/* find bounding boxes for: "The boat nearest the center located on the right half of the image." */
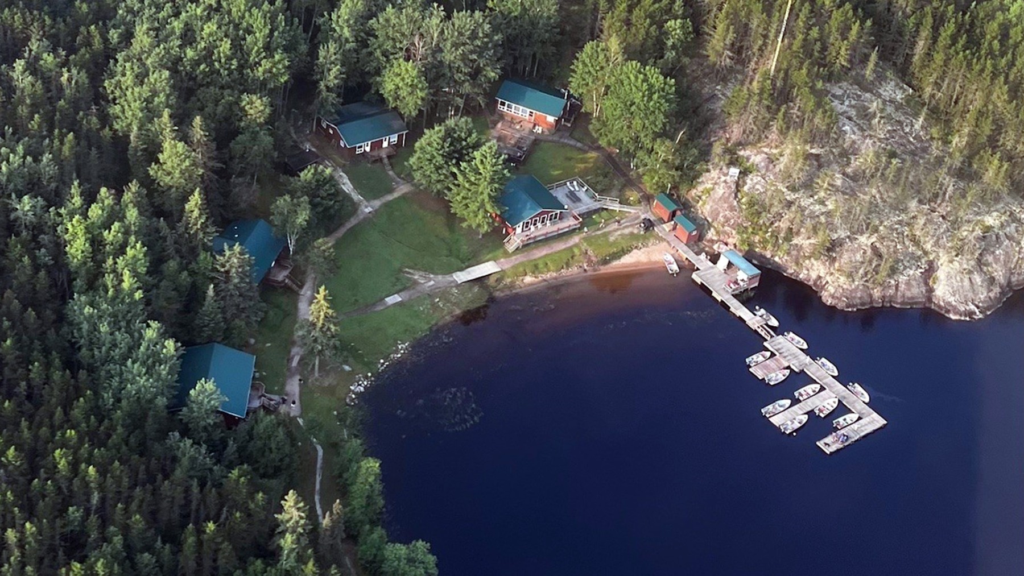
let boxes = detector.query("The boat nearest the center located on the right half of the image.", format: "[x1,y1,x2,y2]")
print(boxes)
[664,254,678,276]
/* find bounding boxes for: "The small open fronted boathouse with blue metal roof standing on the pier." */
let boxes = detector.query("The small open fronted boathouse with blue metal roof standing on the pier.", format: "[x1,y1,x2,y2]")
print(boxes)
[713,249,761,294]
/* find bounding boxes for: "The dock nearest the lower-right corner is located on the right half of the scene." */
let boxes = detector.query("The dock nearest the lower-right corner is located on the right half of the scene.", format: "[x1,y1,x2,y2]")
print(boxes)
[750,335,888,455]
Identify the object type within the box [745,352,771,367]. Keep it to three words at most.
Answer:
boat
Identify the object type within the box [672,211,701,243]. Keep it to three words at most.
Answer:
shed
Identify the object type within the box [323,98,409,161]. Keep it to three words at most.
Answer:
building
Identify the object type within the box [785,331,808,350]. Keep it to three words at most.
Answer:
boat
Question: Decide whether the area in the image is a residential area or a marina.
marina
